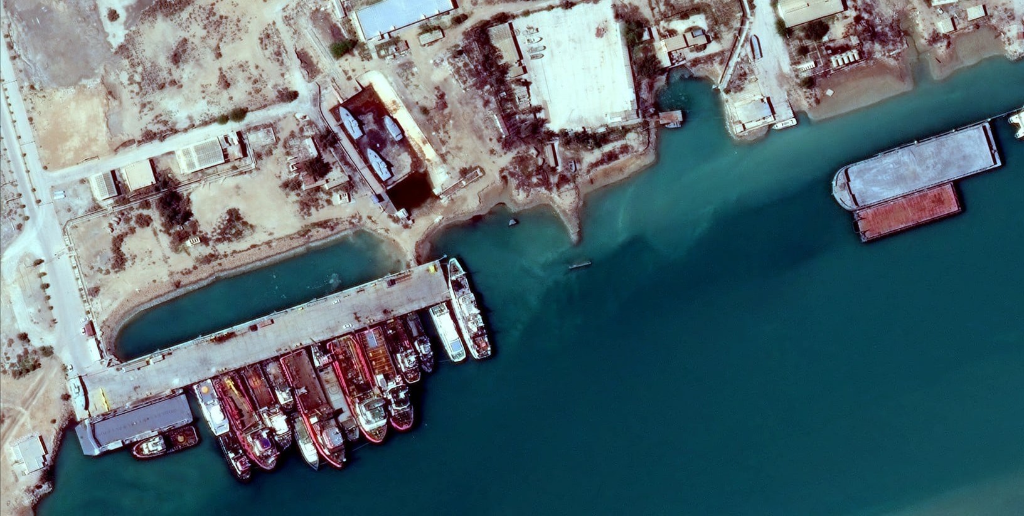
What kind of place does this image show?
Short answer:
port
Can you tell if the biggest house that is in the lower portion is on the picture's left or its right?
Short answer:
left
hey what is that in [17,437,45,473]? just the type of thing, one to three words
house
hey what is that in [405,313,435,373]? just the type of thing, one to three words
boat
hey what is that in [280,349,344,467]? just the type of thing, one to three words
ship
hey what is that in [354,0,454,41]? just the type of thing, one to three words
building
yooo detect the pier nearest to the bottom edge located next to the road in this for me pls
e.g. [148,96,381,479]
[67,255,451,421]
